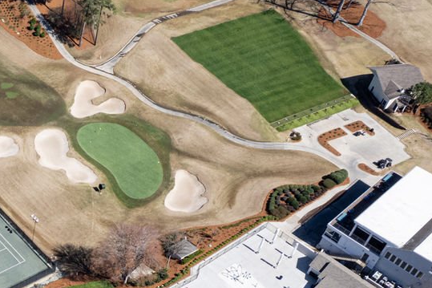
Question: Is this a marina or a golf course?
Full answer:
This looks like a golf course.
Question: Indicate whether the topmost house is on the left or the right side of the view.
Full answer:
You can find the topmost house on the right side of the picture.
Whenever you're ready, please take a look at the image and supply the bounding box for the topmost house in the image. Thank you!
[367,67,426,113]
